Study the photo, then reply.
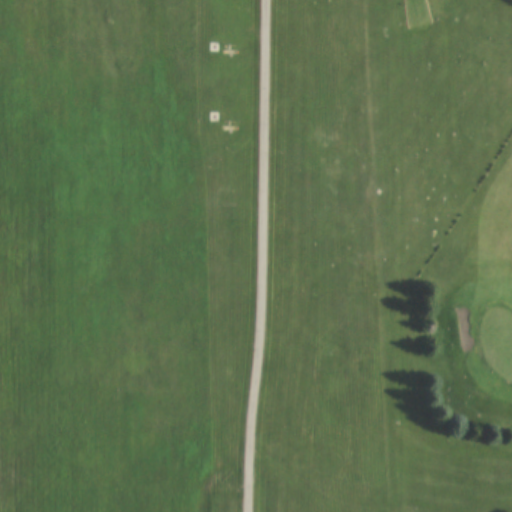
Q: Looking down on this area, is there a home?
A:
No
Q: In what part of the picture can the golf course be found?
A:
right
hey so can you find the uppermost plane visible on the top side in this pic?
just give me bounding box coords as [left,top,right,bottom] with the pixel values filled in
[223,44,240,58]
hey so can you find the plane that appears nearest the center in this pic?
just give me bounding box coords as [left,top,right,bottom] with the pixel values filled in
[223,120,239,134]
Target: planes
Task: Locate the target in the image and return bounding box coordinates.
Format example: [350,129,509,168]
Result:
[223,44,240,58]
[223,120,239,134]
